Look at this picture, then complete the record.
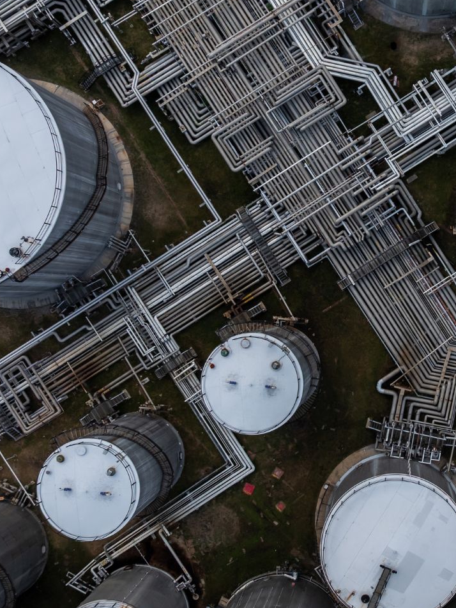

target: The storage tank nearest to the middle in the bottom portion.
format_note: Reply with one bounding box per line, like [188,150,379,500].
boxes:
[196,318,327,437]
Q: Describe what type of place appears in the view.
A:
industrial area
